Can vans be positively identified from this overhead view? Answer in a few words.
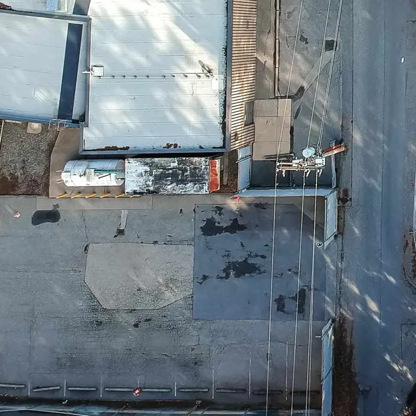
No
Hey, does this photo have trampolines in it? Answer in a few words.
No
